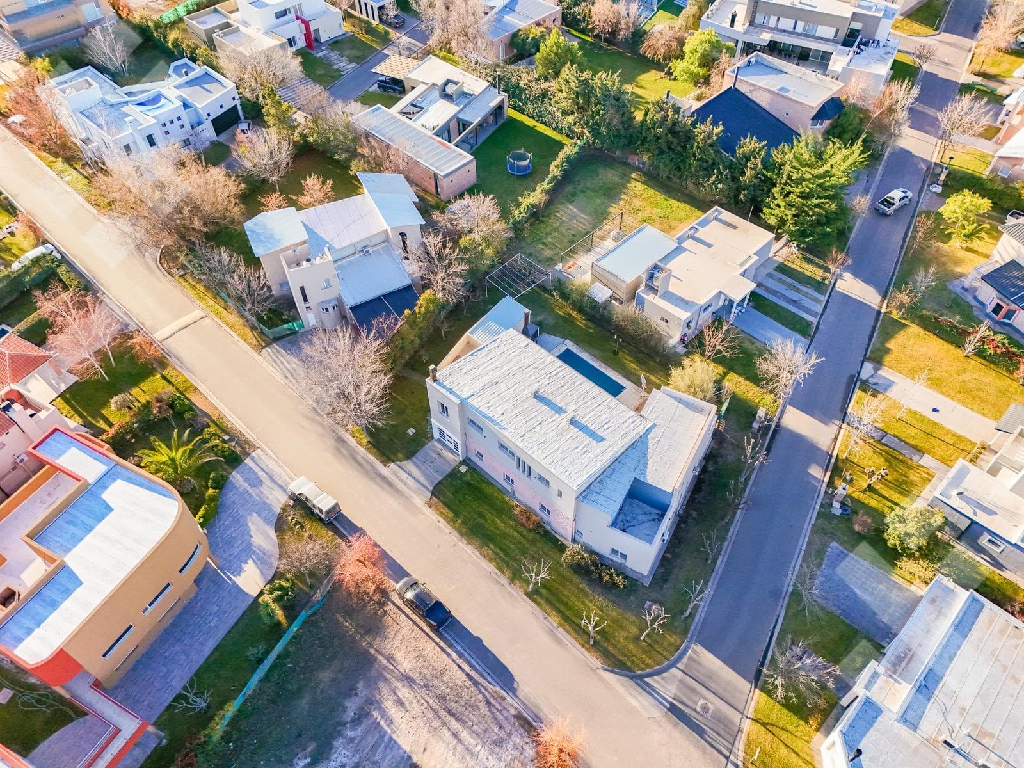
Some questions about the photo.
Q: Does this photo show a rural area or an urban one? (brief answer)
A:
urban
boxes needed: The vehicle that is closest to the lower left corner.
[288,475,342,527]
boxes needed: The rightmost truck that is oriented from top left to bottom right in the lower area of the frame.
[391,573,455,636]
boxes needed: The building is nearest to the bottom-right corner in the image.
[816,574,1024,768]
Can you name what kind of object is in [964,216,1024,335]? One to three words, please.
house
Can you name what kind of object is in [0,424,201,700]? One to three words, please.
house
